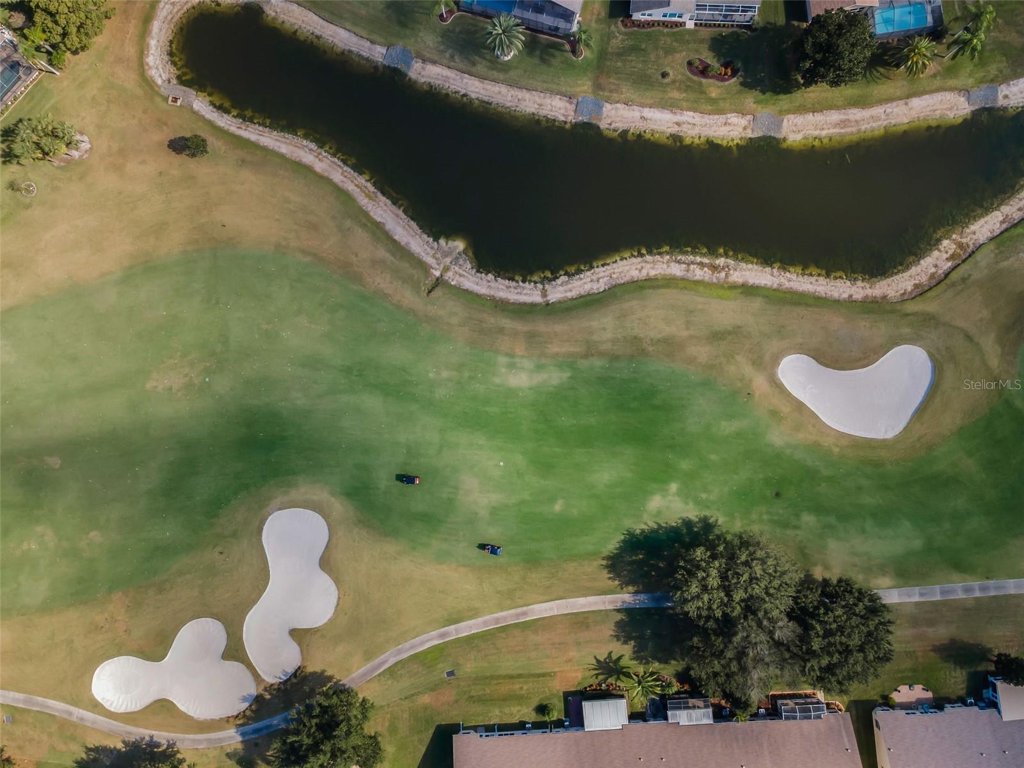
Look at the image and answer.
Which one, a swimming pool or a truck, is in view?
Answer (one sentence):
Looking from above, you can make out a swimming pool.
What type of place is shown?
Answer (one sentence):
This looks like a golf course.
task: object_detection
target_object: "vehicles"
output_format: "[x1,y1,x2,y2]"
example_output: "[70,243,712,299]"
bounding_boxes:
[400,475,419,485]
[483,543,501,556]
